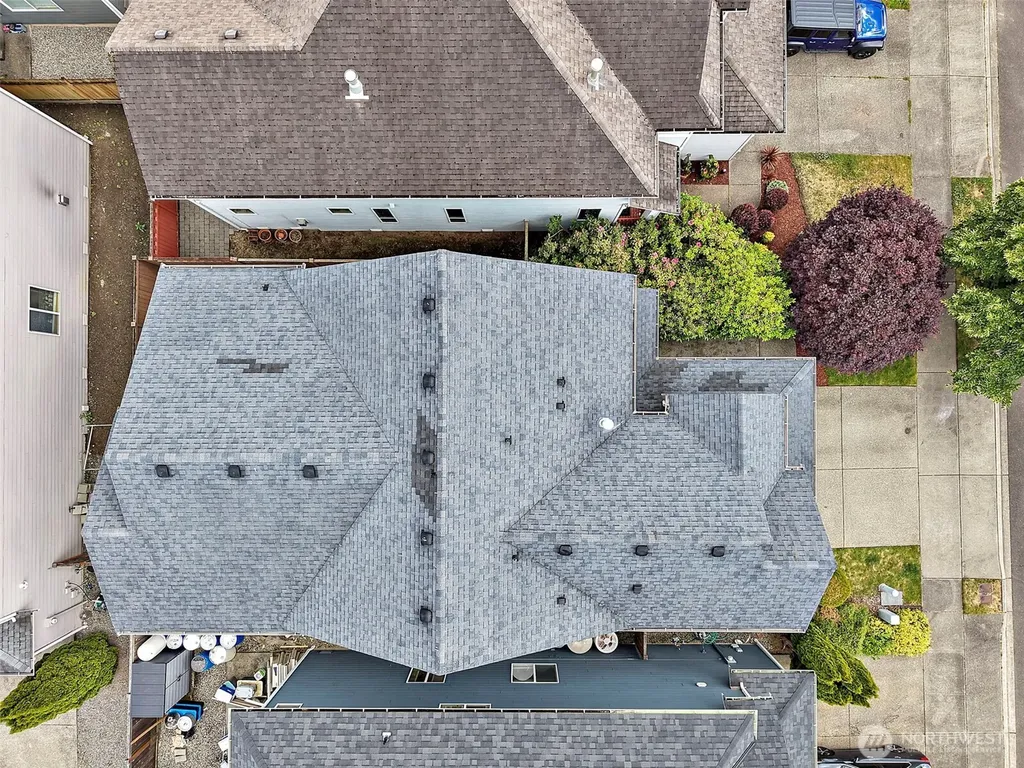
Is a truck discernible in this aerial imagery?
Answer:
No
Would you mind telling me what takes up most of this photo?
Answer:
buildings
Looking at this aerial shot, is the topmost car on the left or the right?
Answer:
right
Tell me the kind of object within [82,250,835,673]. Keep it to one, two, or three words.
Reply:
house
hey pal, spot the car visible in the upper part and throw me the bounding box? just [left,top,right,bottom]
[788,0,886,58]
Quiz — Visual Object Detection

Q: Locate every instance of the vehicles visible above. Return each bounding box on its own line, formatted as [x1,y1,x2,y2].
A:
[818,744,933,768]
[788,0,886,58]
